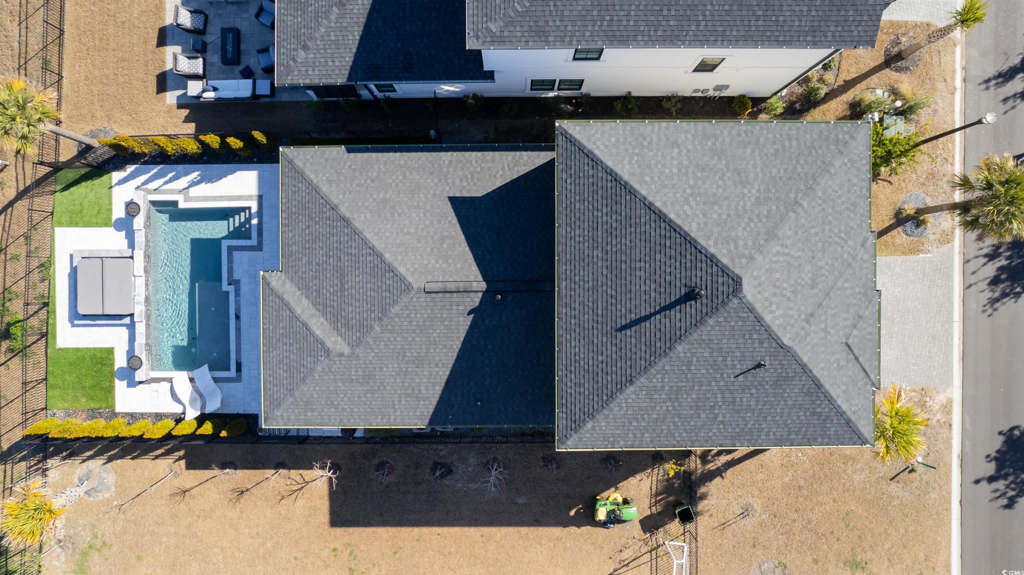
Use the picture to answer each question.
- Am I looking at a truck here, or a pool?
pool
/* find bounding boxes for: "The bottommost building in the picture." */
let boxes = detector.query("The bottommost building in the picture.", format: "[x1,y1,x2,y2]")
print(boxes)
[260,112,880,451]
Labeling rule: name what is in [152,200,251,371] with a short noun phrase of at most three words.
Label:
swimming pool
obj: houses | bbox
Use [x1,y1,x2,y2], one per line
[275,0,886,99]
[260,112,880,451]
